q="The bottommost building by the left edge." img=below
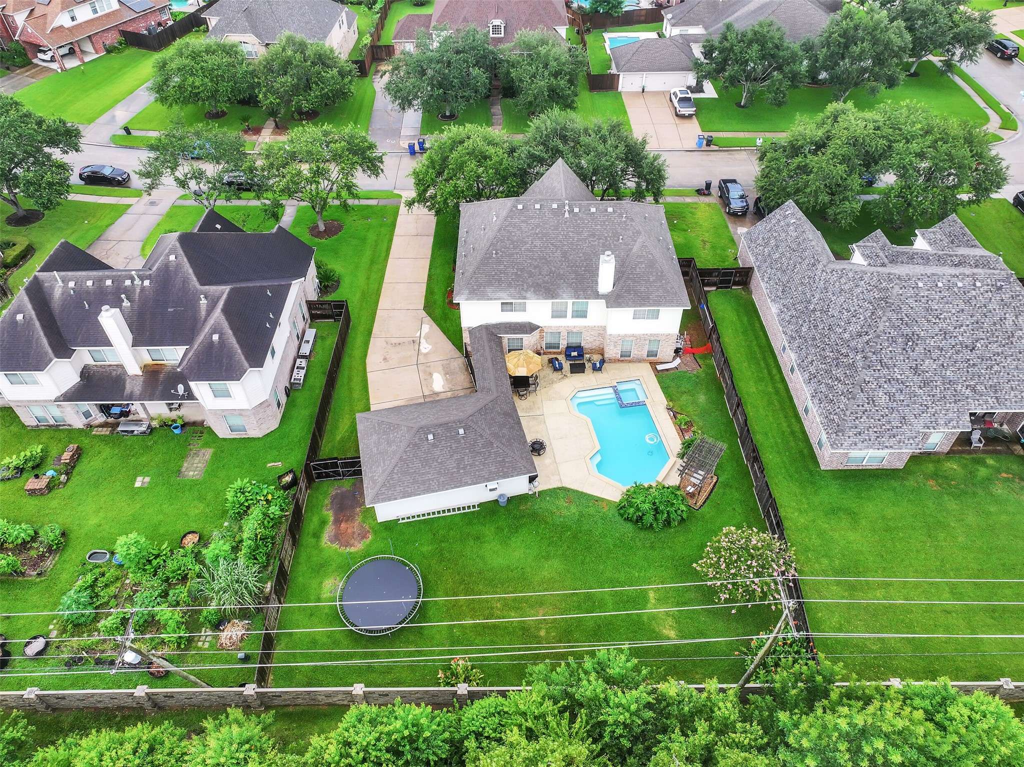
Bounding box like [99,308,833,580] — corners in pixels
[0,208,321,437]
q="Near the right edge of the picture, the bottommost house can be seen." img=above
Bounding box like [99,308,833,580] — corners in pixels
[739,199,1024,471]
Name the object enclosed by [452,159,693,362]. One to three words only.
house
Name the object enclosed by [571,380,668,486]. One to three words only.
swimming pool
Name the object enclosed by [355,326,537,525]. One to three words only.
building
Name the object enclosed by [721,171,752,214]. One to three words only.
truck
